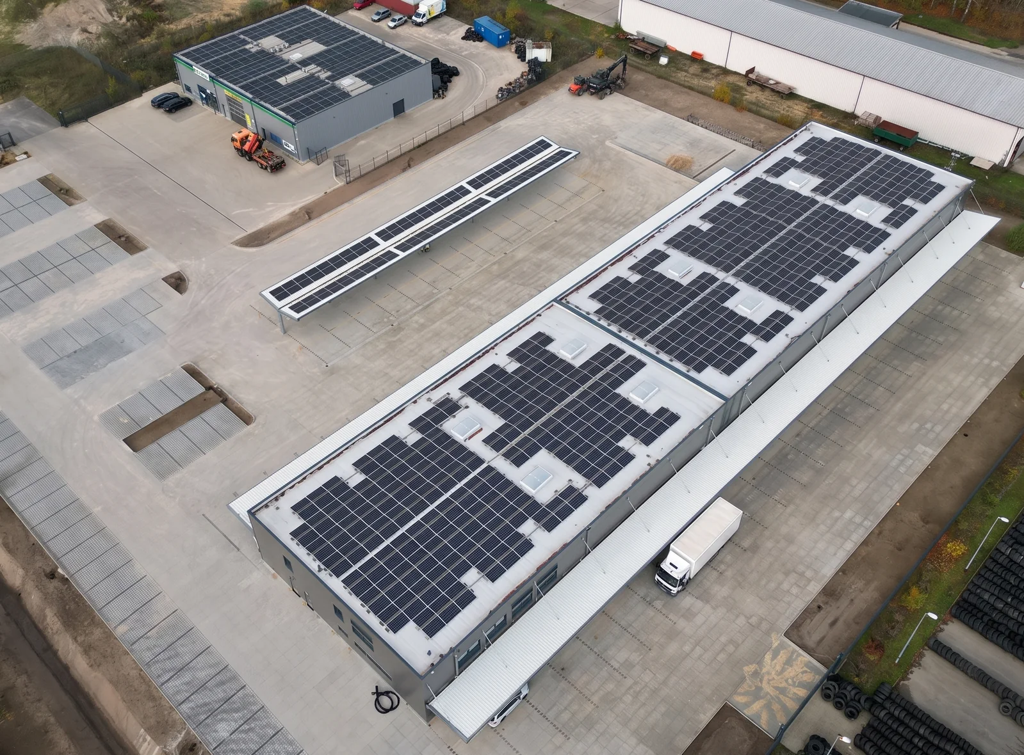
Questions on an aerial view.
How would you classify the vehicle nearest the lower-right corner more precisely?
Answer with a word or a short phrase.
truck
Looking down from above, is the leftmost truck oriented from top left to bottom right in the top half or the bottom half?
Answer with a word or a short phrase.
top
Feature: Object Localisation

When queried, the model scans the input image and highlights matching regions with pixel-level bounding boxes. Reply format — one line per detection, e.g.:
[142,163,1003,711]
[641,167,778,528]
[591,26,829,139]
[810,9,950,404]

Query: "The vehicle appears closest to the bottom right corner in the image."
[655,497,743,595]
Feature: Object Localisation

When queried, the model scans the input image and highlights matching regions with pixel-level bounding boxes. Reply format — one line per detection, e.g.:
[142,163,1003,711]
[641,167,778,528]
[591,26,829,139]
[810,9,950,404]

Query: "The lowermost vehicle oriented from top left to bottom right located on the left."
[229,128,283,171]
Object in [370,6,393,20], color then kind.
gray car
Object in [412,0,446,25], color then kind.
white vehicle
